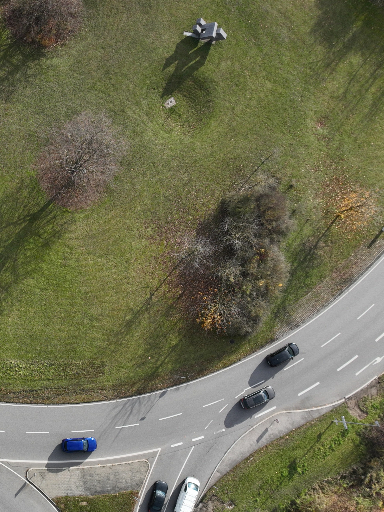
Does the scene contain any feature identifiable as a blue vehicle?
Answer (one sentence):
Yes, a blue vehicle can be made out from above.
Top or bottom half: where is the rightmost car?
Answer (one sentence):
The rightmost car sits in the bottom half of the picture.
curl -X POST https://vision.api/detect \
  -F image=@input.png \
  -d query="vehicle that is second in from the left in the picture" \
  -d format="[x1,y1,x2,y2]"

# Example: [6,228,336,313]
[147,479,168,512]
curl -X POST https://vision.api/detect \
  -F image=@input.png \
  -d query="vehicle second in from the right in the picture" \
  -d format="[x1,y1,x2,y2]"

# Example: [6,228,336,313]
[237,385,275,410]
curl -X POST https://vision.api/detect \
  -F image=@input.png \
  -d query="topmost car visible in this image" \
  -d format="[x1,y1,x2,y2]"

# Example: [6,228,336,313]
[263,342,299,367]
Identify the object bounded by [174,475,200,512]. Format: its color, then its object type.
white vehicle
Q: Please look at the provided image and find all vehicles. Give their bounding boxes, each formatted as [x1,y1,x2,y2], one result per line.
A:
[263,342,299,367]
[61,436,97,454]
[174,475,200,512]
[147,479,168,512]
[237,385,275,410]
